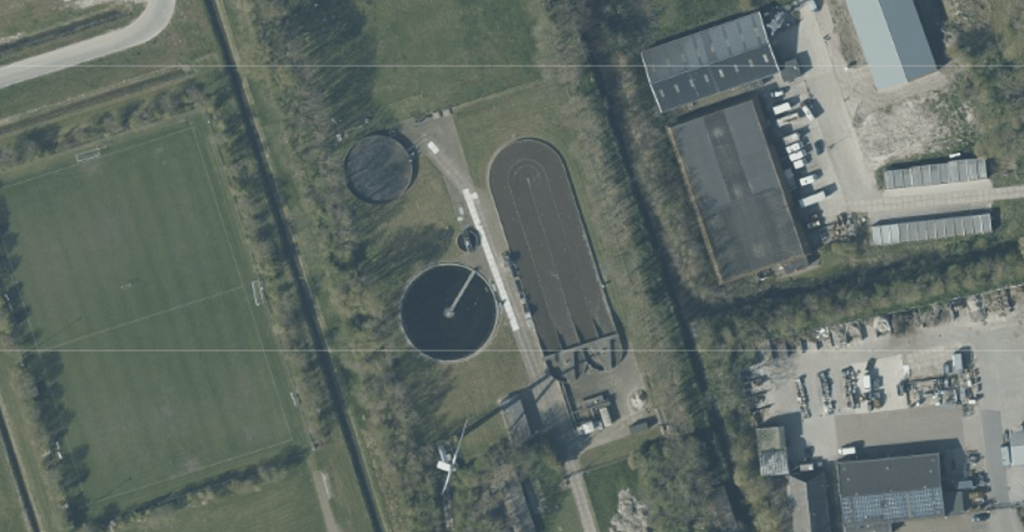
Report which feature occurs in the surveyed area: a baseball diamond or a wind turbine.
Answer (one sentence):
The image shows a wind turbine.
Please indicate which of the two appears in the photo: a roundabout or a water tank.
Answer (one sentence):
Of the two, only a water tank appears.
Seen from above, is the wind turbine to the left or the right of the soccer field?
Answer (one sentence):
From the viewer's perspective, the wind turbine falls to the right of the soccer field.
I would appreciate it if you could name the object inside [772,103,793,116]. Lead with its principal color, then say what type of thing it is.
white vehicle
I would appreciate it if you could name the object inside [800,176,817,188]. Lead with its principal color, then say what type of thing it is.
white vehicle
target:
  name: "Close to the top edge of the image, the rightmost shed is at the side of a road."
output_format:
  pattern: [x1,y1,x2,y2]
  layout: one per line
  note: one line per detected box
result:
[845,0,937,91]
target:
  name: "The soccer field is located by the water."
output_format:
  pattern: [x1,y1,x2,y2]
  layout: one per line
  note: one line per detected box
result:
[0,117,300,516]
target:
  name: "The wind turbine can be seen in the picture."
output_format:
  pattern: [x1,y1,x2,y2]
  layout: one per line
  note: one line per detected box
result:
[434,420,469,497]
